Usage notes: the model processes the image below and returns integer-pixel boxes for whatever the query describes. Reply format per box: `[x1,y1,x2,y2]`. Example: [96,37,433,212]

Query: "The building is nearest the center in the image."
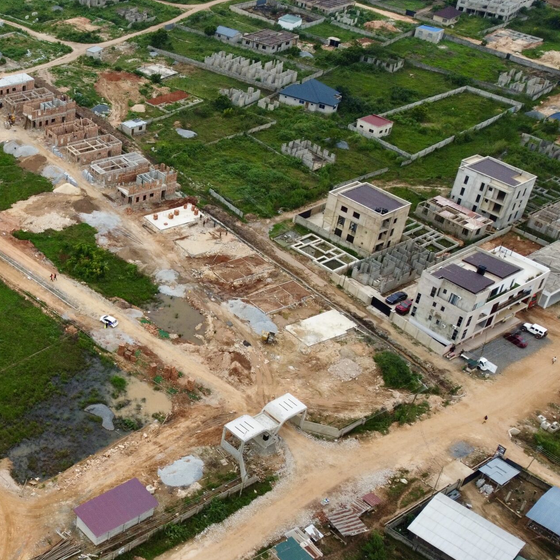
[320,182,411,260]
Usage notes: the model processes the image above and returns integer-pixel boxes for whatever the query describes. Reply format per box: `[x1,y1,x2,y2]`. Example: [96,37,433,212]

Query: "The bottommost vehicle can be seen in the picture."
[471,353,508,374]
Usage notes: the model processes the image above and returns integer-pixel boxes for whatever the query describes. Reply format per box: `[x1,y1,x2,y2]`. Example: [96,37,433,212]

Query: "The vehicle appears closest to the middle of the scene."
[256,327,284,349]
